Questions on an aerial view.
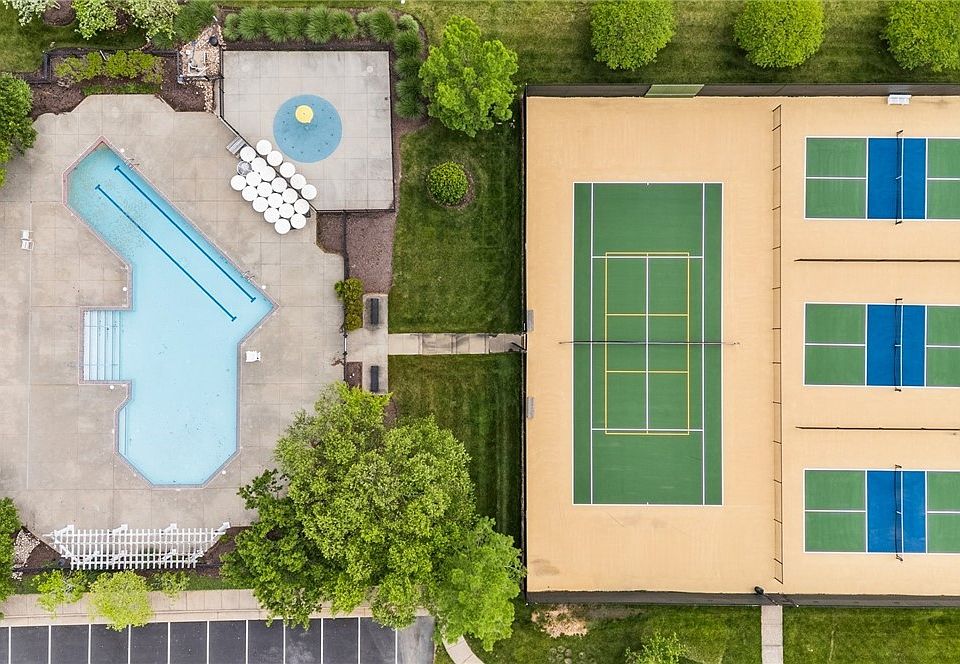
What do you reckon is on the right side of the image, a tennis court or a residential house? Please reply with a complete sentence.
Visible on the right side of the image is a tennis court.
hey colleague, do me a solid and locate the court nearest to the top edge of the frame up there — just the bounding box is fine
[805,137,960,219]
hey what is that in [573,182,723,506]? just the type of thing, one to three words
tennis court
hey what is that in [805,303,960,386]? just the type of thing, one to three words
sports court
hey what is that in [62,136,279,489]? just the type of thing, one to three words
swimming pool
